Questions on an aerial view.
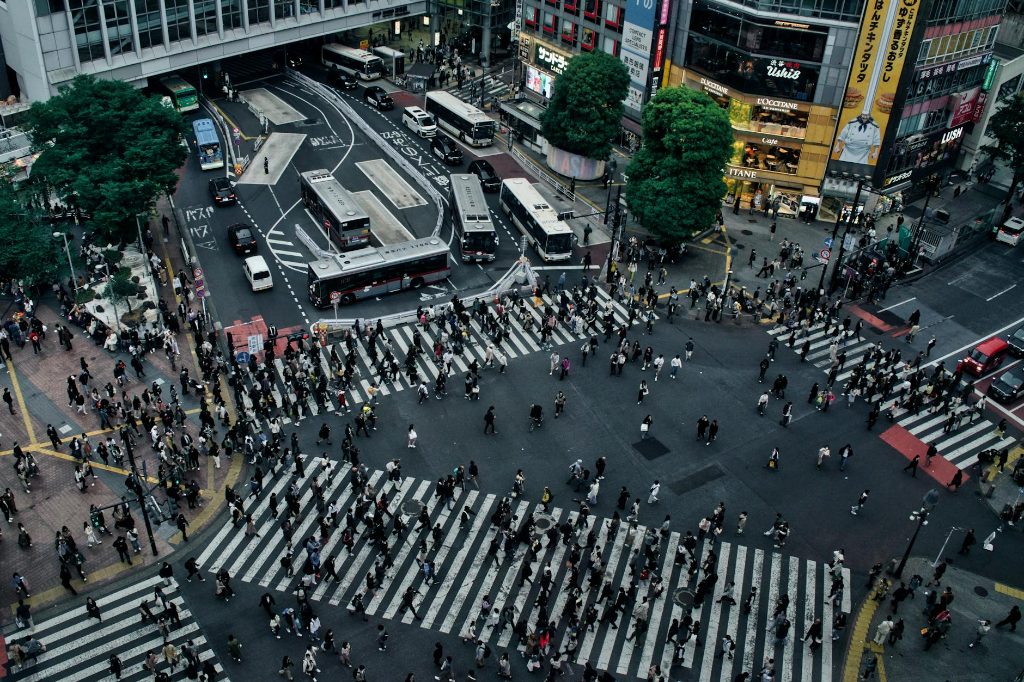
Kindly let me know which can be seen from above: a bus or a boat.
bus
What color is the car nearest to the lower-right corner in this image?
black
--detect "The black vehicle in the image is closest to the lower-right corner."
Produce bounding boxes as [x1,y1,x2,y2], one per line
[990,357,1024,401]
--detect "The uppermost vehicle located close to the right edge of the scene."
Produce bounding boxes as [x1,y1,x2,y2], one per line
[997,212,1024,244]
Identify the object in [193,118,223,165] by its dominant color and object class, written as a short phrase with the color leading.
blue bus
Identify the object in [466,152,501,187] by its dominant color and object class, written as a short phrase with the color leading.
black car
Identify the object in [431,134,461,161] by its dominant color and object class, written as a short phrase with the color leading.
black car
